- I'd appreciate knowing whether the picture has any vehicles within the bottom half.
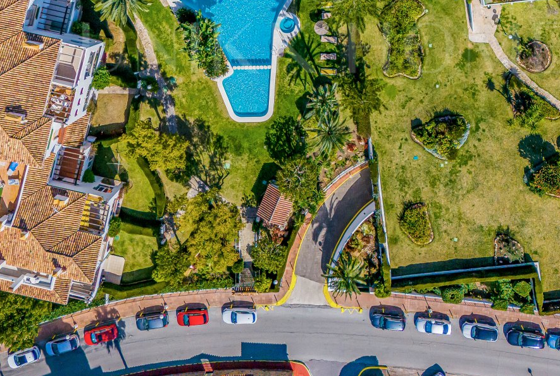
Yes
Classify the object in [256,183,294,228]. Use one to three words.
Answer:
shed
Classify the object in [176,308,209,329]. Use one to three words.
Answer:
car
